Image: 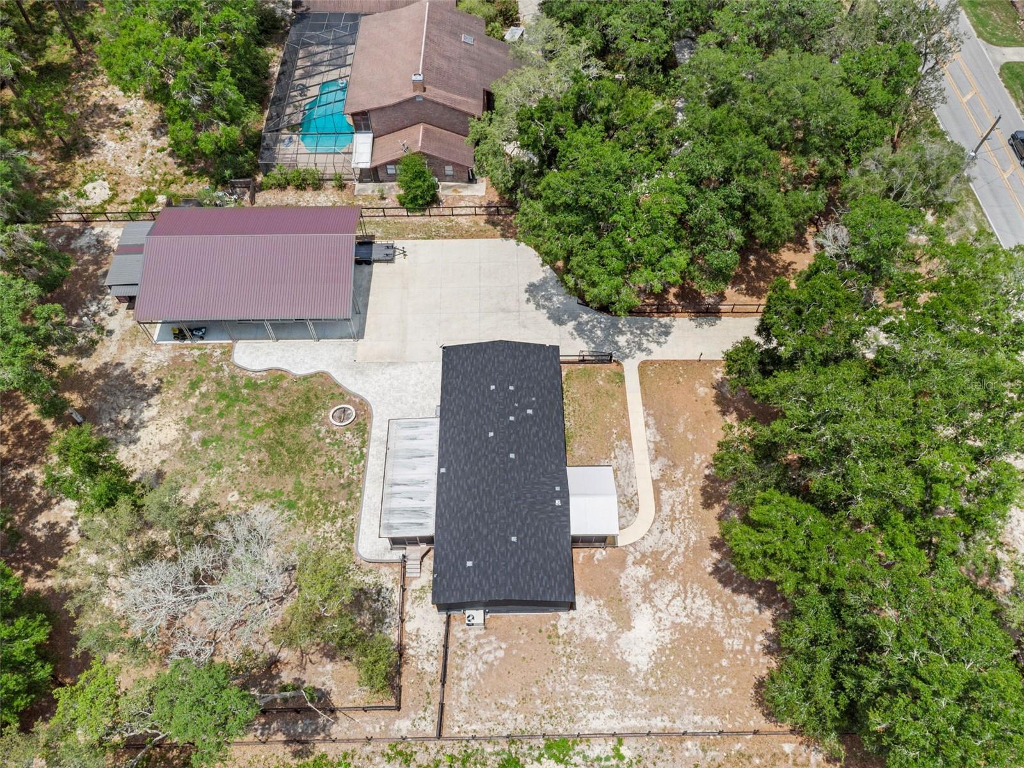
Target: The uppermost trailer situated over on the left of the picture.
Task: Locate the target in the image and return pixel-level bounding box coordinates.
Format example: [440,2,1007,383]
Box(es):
[356,240,408,266]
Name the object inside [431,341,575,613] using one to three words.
house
